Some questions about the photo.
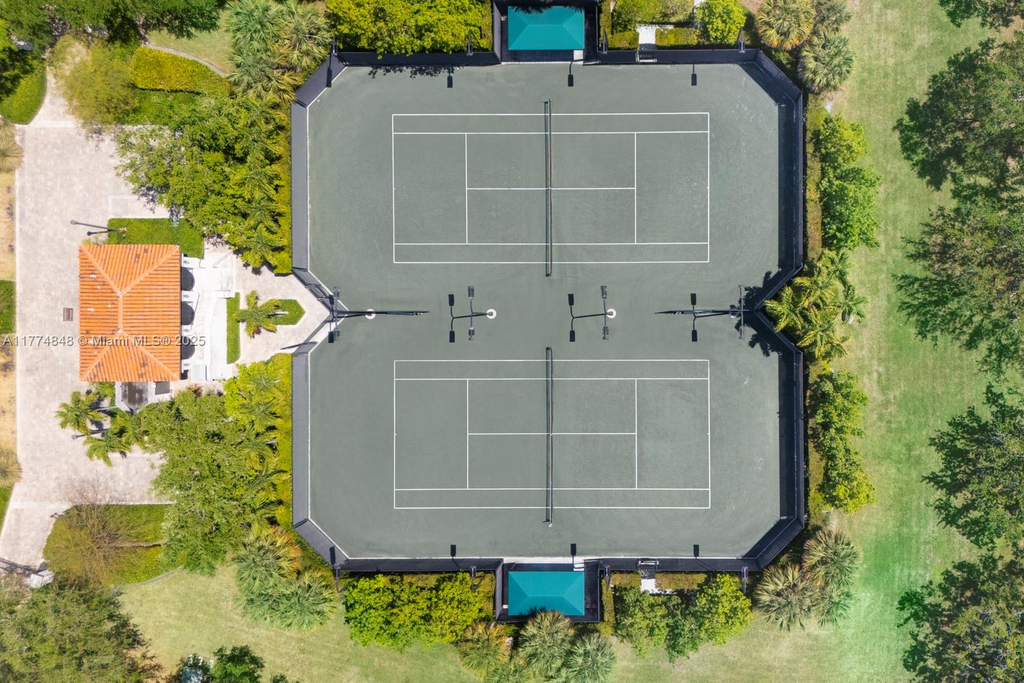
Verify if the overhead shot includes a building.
Yes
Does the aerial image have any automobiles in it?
No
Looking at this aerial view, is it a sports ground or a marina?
sports ground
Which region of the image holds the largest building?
left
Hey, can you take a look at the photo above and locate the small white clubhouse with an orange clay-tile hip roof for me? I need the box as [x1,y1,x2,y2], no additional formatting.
[76,243,198,415]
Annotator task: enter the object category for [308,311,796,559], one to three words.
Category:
tennis court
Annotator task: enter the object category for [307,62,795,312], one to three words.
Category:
tennis court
